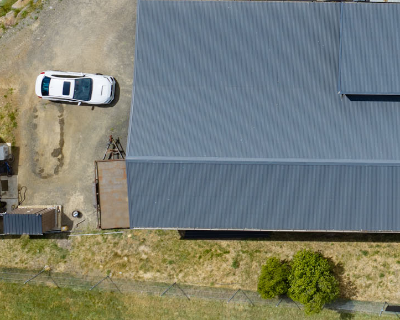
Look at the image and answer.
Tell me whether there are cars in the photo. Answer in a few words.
Yes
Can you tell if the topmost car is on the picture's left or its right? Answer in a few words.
left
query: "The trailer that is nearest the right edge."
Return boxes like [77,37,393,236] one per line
[91,133,129,229]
